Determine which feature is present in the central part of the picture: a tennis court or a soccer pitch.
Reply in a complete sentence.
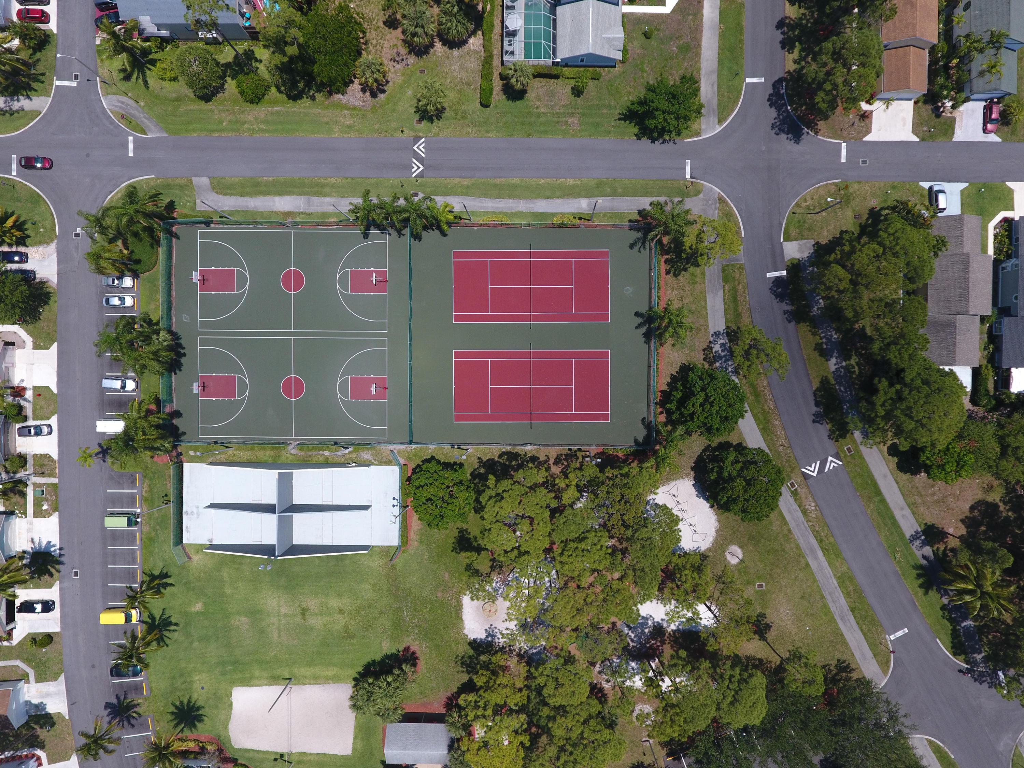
The one visible in the central part of the picture is a tennis court.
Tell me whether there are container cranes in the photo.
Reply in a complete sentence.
No, the scene contains no container crane.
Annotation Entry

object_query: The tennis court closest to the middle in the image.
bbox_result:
[453,349,610,423]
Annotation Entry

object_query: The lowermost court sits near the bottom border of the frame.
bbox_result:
[229,684,355,755]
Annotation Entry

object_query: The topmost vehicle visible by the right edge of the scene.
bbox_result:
[981,100,999,135]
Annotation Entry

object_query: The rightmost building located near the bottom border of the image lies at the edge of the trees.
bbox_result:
[384,714,449,764]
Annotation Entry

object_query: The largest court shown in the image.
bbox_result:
[174,227,649,444]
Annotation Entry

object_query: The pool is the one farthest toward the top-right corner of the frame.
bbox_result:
[525,0,551,59]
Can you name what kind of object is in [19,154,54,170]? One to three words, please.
car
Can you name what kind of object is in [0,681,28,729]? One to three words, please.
house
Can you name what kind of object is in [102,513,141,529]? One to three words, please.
vehicle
